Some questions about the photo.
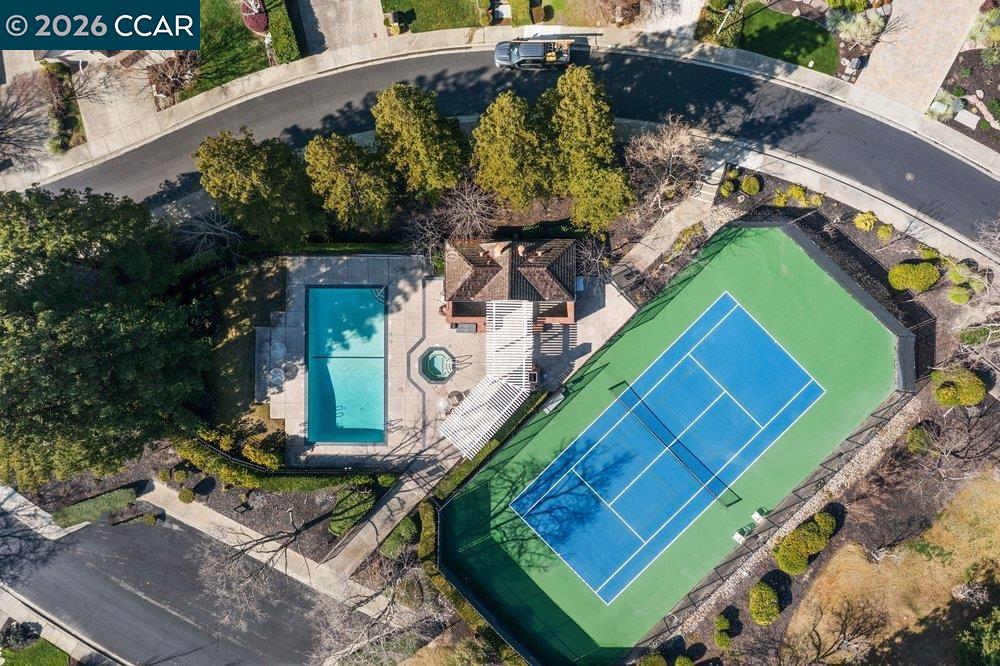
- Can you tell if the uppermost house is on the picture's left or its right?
left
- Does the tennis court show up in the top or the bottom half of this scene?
bottom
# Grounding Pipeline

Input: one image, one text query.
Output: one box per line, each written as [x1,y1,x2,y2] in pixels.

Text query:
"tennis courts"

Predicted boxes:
[440,229,897,666]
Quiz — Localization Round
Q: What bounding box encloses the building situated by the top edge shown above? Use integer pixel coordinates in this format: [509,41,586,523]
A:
[34,0,175,67]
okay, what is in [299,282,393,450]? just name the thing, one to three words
swimming pool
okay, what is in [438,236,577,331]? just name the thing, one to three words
building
